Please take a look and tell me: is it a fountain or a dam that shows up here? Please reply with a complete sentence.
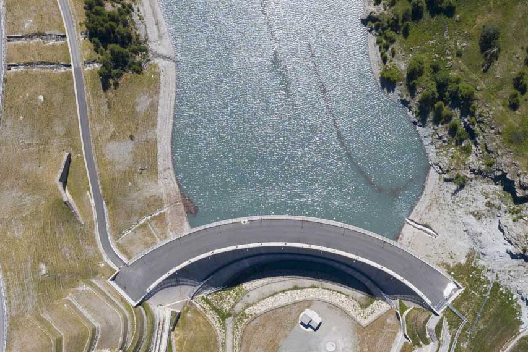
This aerial view contains a dam.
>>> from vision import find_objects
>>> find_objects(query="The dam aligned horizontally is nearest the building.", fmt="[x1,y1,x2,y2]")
[107,208,465,316]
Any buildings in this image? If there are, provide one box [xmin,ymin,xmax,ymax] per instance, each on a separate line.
[299,309,321,331]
